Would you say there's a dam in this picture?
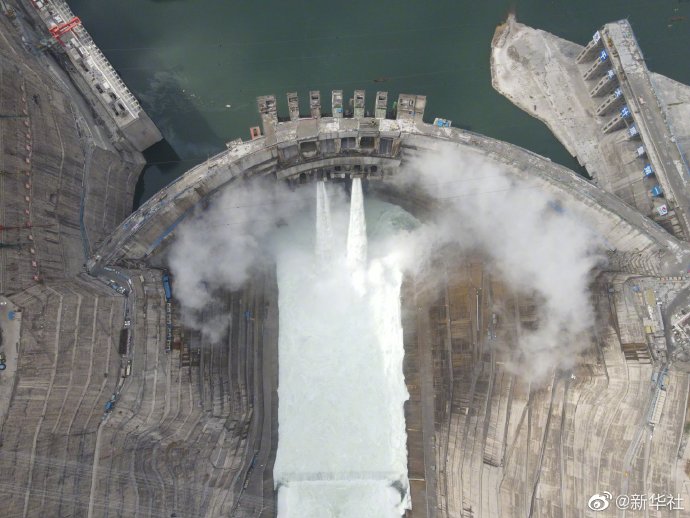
Yes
